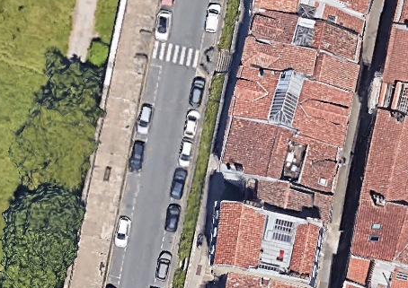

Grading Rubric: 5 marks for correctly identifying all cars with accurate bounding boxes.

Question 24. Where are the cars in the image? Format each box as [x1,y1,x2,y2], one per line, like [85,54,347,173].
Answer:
[164,201,183,233]
[114,214,134,249]
[203,1,224,37]
[136,103,156,135]
[156,250,174,282]
[129,138,149,174]
[184,107,202,138]
[177,137,196,169]
[155,7,174,43]
[189,74,209,110]
[170,166,189,201]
